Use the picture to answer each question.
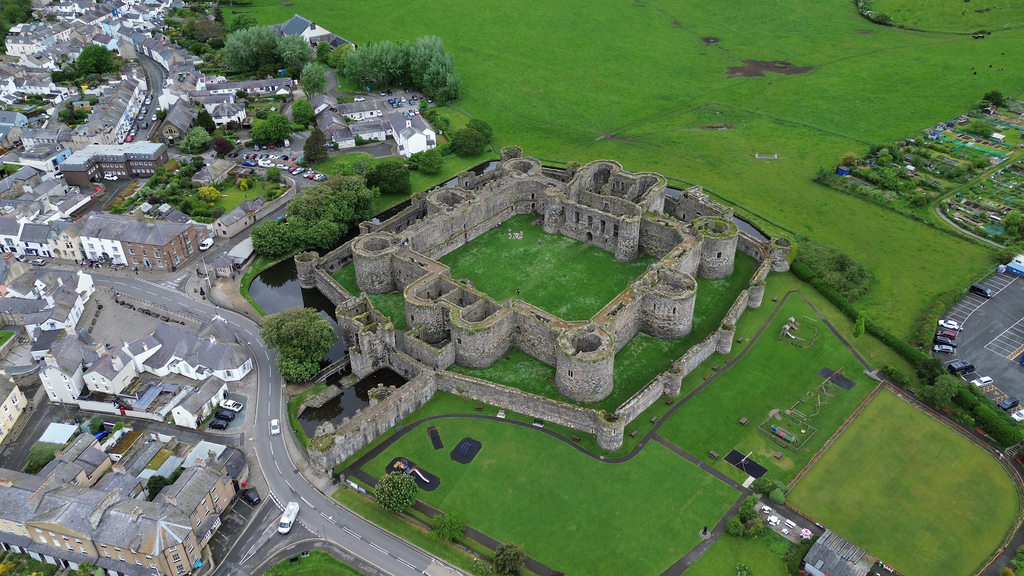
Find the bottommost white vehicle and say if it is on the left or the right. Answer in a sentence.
The bottommost white vehicle sits on the left side.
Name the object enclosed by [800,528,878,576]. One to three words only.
building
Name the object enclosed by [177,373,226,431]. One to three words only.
barn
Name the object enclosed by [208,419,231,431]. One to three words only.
vehicle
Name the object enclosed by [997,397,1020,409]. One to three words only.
vehicle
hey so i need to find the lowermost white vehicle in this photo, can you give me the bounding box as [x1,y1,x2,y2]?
[277,497,301,533]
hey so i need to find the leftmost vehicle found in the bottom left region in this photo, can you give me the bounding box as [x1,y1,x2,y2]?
[94,425,115,441]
